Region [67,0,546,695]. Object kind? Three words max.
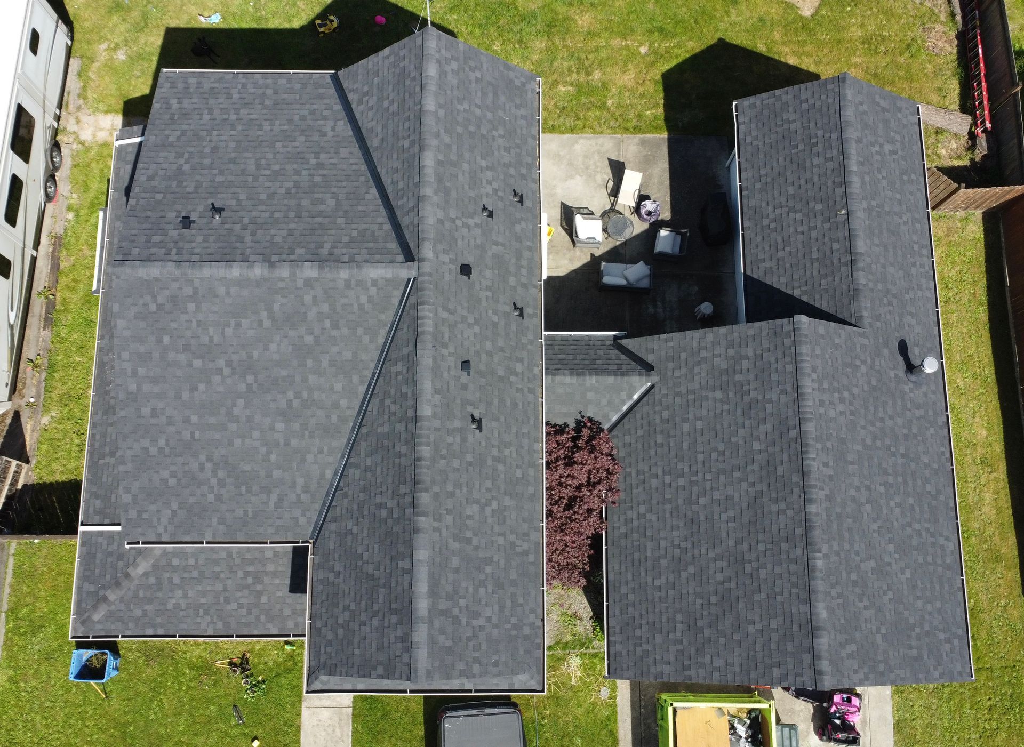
house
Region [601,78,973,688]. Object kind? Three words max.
building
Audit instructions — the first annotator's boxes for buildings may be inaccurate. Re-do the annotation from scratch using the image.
[601,78,973,688]
[67,0,546,695]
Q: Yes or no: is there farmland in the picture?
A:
No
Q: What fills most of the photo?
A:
buildings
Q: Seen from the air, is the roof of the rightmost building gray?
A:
Yes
